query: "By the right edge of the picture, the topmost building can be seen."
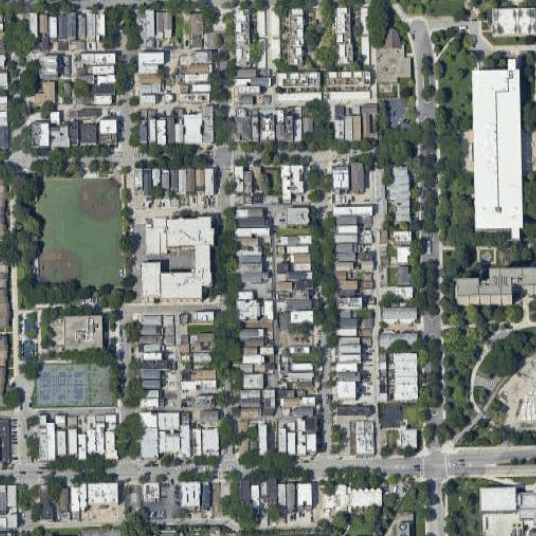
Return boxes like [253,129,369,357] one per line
[491,8,536,38]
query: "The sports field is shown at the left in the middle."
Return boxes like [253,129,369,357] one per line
[39,178,121,287]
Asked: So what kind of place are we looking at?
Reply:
residential area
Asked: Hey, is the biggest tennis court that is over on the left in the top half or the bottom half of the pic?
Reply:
bottom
